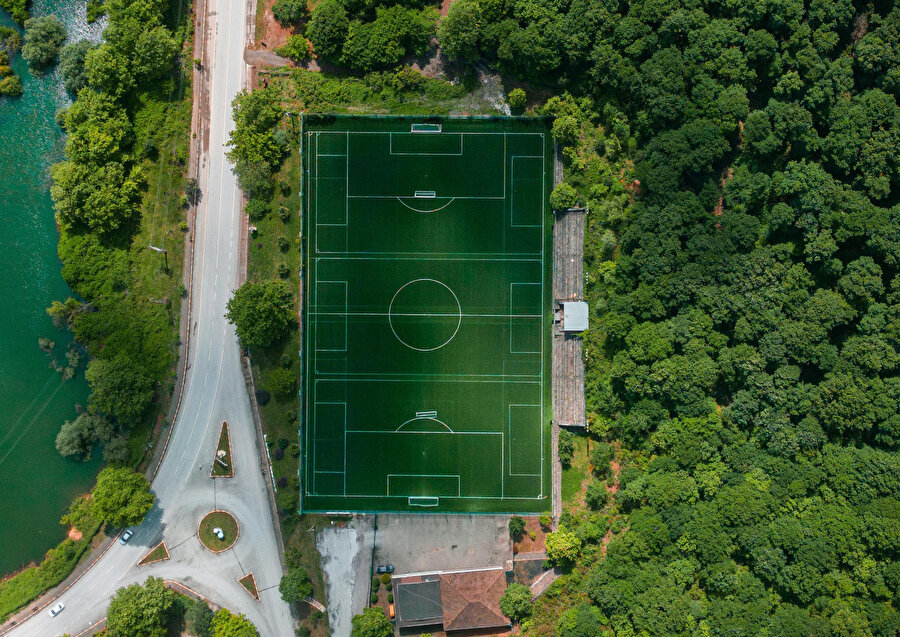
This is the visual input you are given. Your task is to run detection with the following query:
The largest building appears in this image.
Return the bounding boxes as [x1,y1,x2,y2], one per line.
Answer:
[392,566,513,635]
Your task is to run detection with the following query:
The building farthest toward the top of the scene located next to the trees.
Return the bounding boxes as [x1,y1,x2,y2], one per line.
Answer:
[553,298,589,340]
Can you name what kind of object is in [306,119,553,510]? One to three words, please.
soccer field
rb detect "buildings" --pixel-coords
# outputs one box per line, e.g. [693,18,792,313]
[553,298,589,340]
[392,566,513,635]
